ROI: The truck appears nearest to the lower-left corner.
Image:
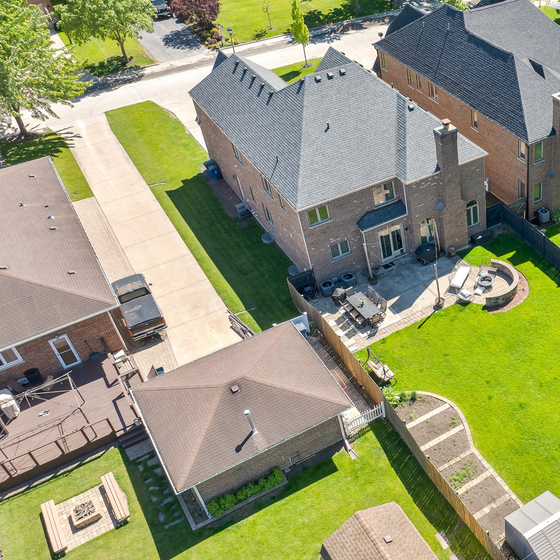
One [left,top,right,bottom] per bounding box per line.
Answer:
[112,273,167,338]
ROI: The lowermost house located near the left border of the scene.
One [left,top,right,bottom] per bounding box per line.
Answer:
[0,151,132,395]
